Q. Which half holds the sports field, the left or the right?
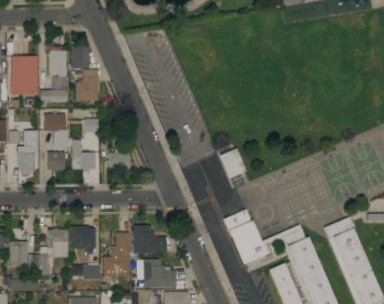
right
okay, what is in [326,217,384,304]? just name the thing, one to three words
building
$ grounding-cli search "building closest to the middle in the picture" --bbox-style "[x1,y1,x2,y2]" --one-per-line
[220,148,246,178]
